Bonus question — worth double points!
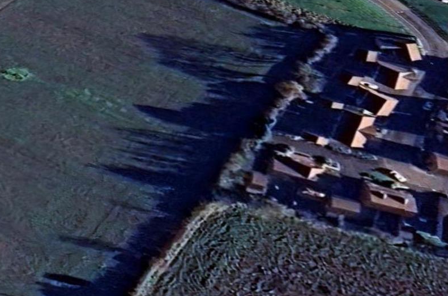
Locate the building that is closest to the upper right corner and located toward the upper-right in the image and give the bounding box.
[390,42,428,71]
